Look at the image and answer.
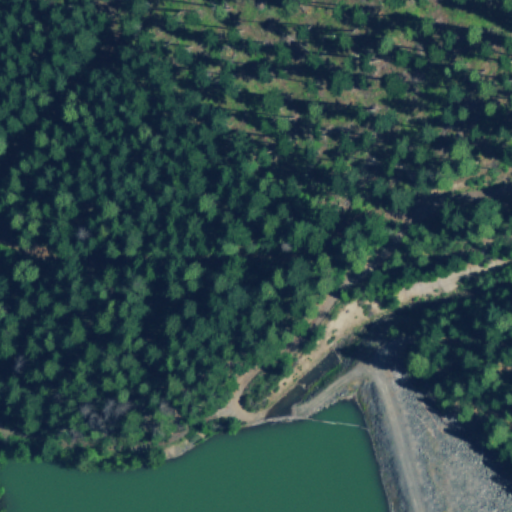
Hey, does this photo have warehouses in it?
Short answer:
No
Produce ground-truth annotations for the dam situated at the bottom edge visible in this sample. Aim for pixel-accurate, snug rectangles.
[360,368,512,512]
